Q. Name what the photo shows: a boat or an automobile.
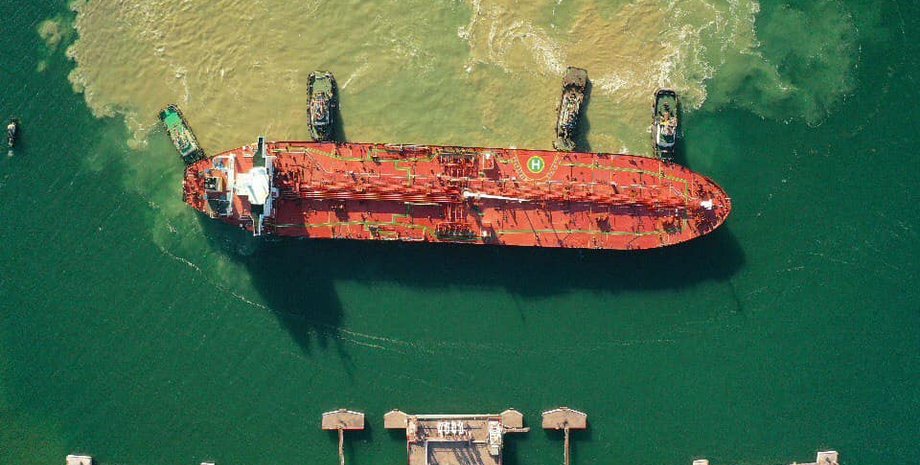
boat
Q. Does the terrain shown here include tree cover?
No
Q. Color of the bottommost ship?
red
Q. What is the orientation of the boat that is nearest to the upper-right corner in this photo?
up and down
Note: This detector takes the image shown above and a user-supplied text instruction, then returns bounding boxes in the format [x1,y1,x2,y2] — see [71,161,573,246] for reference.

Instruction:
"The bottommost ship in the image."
[182,137,734,250]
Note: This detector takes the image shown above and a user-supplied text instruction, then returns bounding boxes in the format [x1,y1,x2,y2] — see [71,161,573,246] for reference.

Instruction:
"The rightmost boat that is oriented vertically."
[650,89,681,163]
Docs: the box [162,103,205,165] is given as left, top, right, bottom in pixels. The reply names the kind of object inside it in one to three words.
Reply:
boat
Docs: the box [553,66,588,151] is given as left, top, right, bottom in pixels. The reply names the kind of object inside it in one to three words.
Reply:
boat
